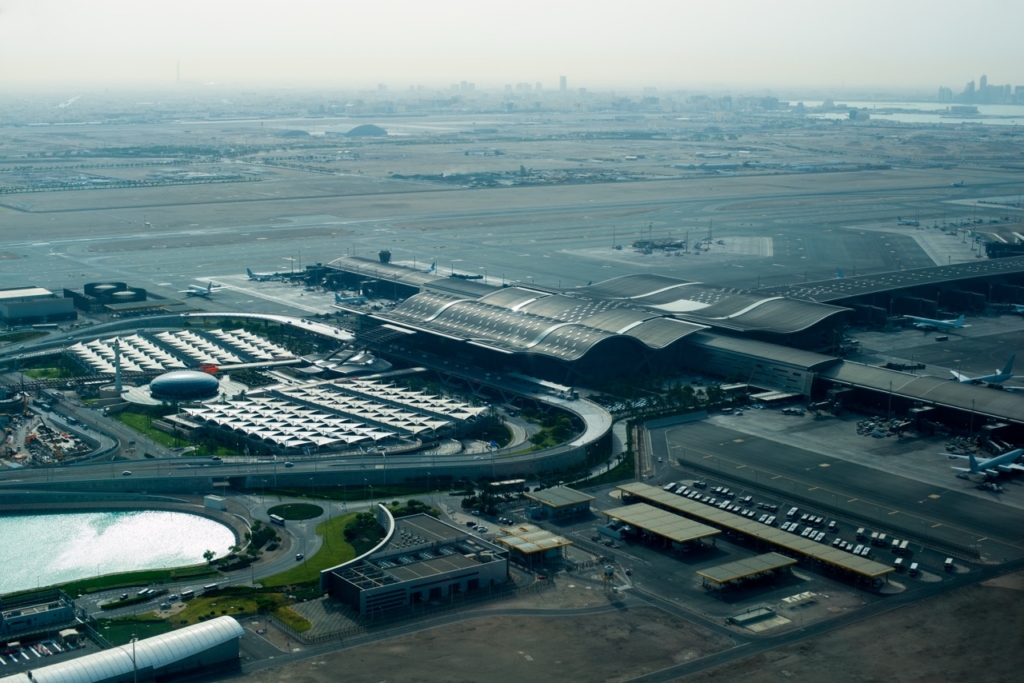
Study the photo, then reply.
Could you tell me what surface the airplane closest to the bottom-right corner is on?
apron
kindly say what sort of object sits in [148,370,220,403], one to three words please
building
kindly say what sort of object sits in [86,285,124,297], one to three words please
building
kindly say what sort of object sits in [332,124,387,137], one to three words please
hangar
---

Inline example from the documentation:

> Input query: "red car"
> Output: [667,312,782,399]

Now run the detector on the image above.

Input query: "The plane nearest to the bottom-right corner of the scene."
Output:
[939,445,1024,470]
